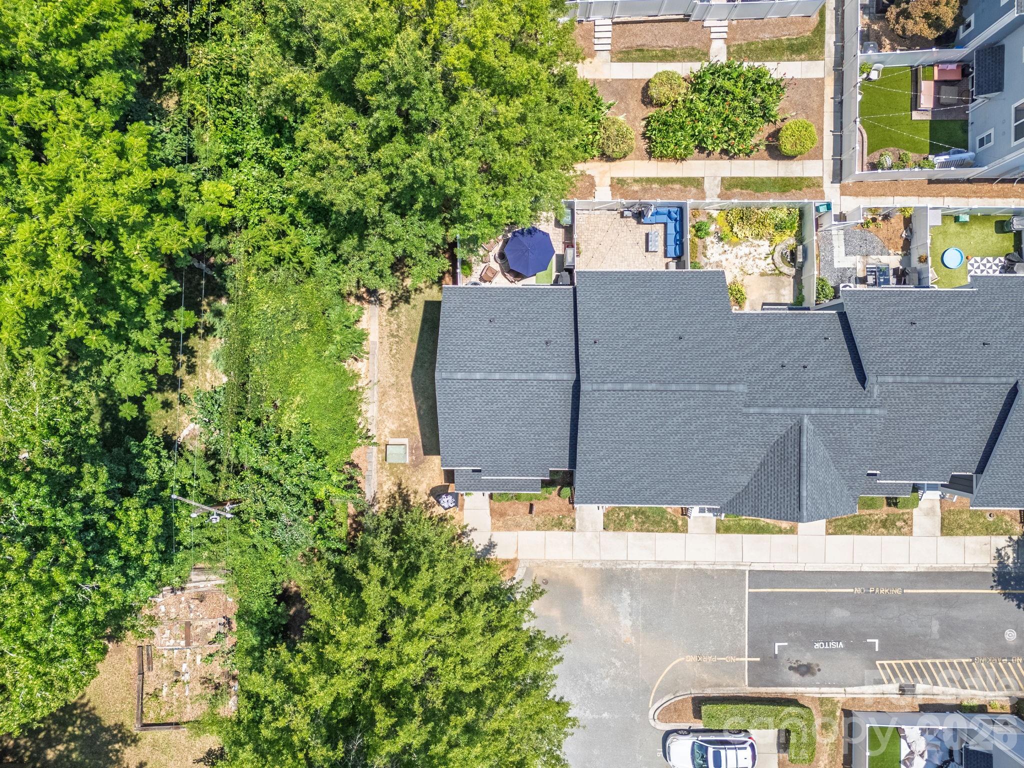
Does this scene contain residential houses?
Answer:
Yes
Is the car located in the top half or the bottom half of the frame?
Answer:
bottom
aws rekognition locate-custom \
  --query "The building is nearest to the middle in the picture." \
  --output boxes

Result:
[435,284,579,493]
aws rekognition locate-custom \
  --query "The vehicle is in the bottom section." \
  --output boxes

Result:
[665,730,757,768]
